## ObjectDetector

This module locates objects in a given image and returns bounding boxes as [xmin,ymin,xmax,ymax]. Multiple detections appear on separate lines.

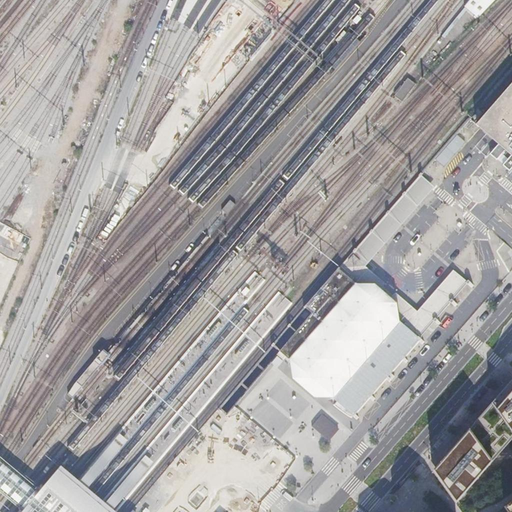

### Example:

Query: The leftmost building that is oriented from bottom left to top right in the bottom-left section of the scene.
[64,350,115,403]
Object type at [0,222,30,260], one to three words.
building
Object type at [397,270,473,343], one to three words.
building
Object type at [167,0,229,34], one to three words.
shed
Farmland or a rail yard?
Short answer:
rail yard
